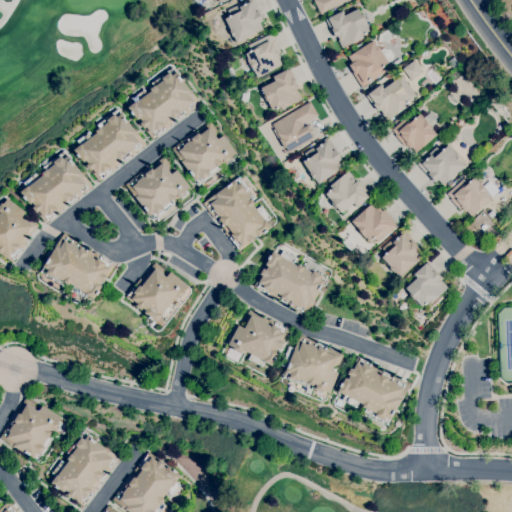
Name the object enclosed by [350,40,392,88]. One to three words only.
house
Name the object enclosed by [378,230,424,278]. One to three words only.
house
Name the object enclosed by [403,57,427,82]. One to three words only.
building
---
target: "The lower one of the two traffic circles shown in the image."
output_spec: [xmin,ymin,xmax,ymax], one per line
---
[0,347,38,398]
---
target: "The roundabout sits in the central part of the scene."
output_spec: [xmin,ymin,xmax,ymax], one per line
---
[210,258,240,288]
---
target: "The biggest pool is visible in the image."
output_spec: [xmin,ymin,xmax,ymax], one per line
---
[421,47,449,67]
